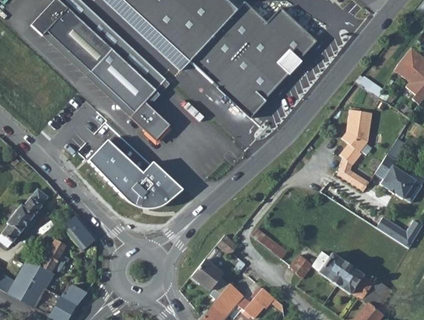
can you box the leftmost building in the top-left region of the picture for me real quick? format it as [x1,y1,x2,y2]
[30,0,168,146]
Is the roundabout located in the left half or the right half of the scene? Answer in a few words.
left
